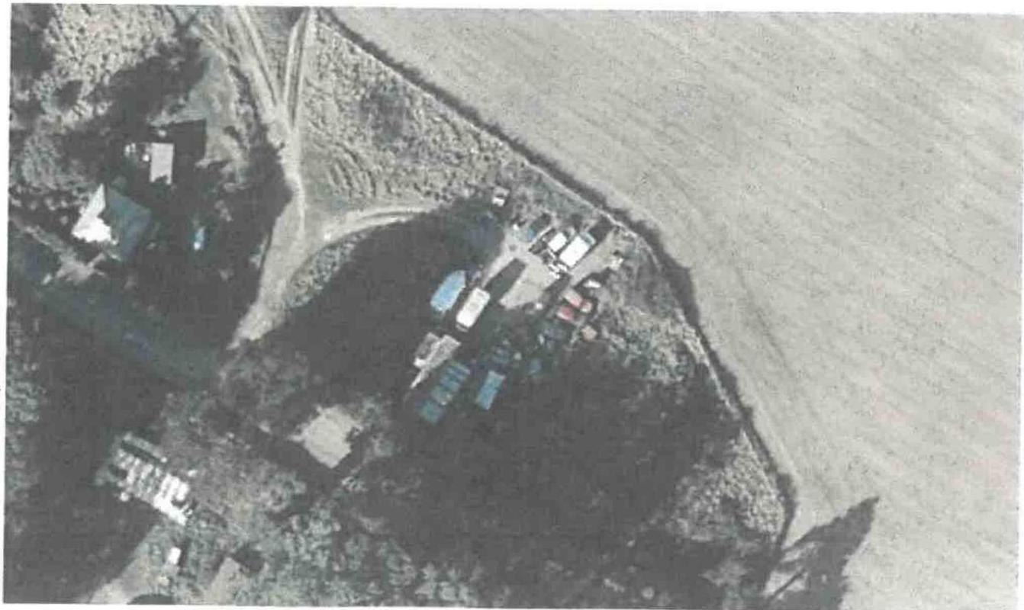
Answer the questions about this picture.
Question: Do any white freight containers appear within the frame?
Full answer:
No, there is no white freight container in the image.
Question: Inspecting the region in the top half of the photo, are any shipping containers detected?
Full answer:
No, no shipping container can be made out in the top half of the photo.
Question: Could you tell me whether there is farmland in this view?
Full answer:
Yes, farmland shows up in the scene.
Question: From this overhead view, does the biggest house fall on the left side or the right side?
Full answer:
It is on the left.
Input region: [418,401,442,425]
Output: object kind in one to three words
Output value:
shed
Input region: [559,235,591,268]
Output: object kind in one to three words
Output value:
building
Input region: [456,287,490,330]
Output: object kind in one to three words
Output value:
camper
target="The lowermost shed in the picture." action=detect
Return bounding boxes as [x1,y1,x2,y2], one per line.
[199,560,239,607]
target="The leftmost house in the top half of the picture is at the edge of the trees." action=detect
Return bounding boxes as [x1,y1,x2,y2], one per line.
[69,181,150,262]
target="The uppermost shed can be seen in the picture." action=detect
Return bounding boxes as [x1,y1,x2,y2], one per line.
[148,140,174,184]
